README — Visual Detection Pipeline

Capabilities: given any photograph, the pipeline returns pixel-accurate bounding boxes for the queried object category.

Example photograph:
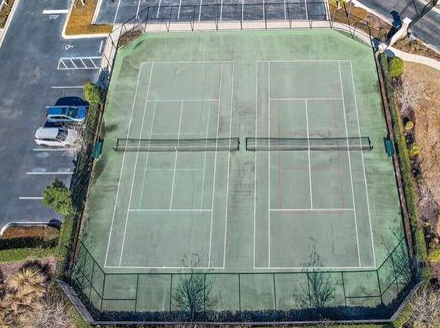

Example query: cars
[31,124,79,146]
[44,102,84,122]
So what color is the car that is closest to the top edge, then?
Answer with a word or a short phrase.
blue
